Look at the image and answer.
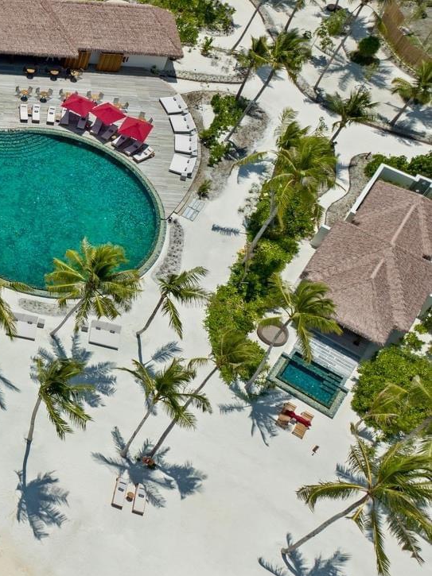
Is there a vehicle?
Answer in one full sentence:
No, no vehicle can be seen from above.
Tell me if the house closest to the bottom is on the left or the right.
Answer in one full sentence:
The house closest to the bottom is on the right side of the image.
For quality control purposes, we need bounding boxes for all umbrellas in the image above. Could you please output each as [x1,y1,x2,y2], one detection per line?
[61,91,98,123]
[91,98,127,131]
[118,114,154,147]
